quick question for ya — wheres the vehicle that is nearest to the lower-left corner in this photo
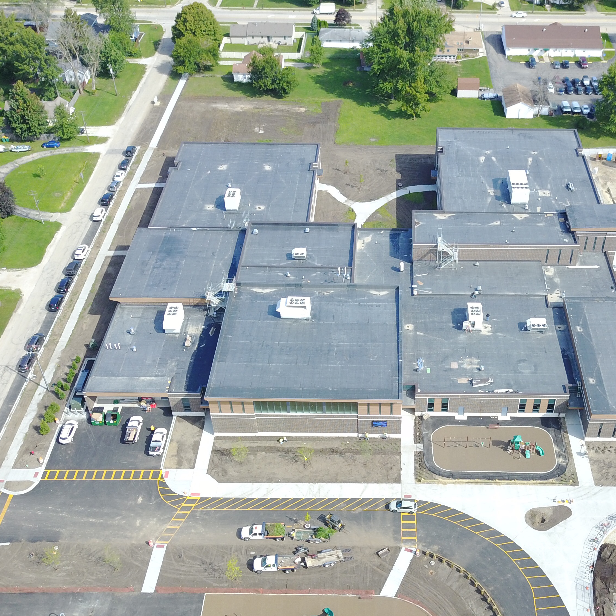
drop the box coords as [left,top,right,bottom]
[57,420,79,445]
